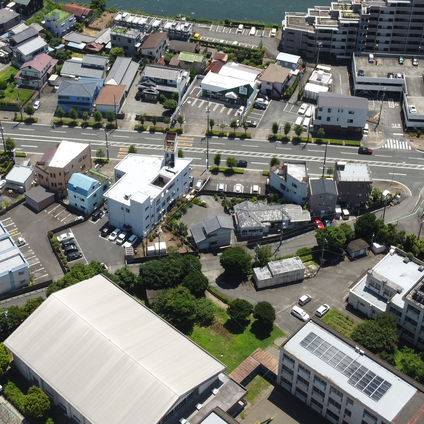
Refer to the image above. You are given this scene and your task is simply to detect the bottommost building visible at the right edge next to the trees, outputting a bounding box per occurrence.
[274,314,424,424]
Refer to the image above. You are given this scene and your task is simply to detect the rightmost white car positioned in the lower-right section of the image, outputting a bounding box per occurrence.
[314,303,332,318]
